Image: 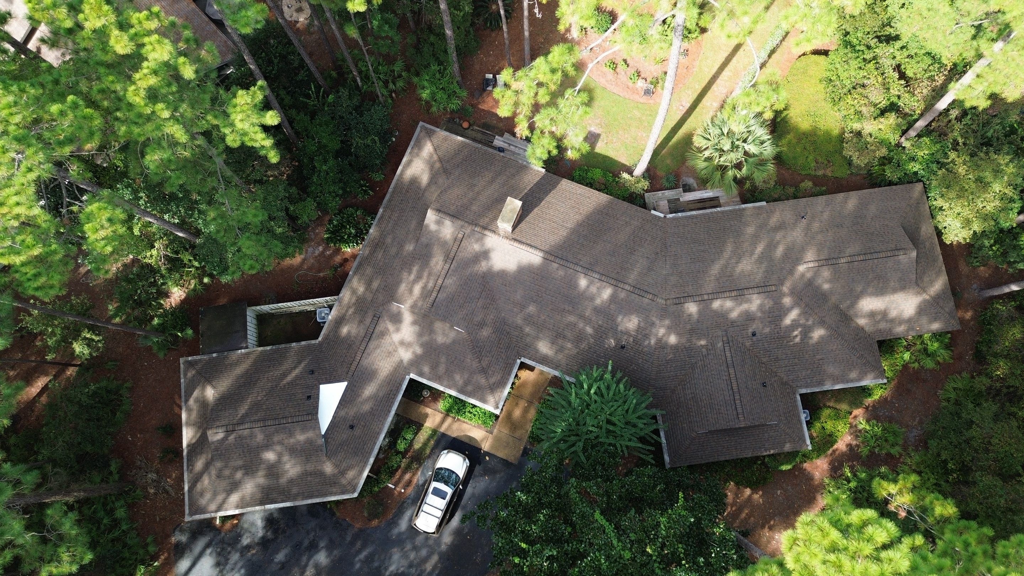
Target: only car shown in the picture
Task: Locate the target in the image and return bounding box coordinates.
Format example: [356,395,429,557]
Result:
[410,447,472,541]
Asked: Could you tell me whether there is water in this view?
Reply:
No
